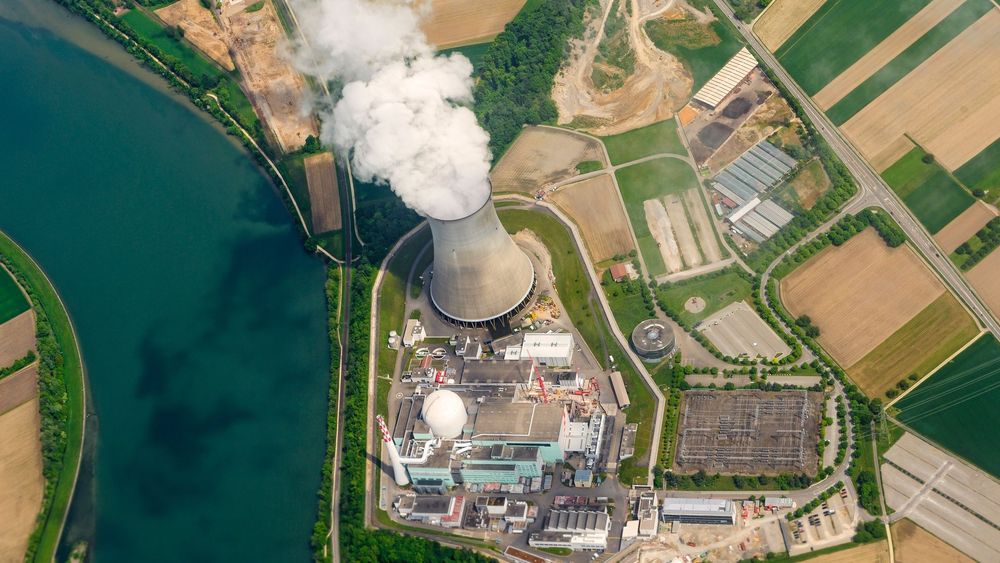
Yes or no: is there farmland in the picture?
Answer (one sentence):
Yes, some farmland is visible.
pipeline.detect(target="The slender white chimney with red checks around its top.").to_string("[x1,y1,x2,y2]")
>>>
[378,417,409,486]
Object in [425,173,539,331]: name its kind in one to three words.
cooling tower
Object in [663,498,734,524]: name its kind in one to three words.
building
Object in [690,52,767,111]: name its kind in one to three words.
shed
